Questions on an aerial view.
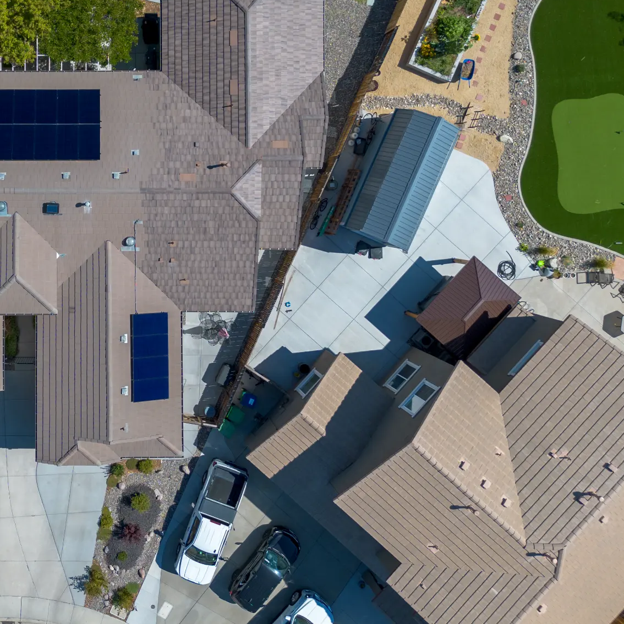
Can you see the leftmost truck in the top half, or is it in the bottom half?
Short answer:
bottom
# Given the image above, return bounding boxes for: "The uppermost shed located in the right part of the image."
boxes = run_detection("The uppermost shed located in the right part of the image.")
[336,105,462,253]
